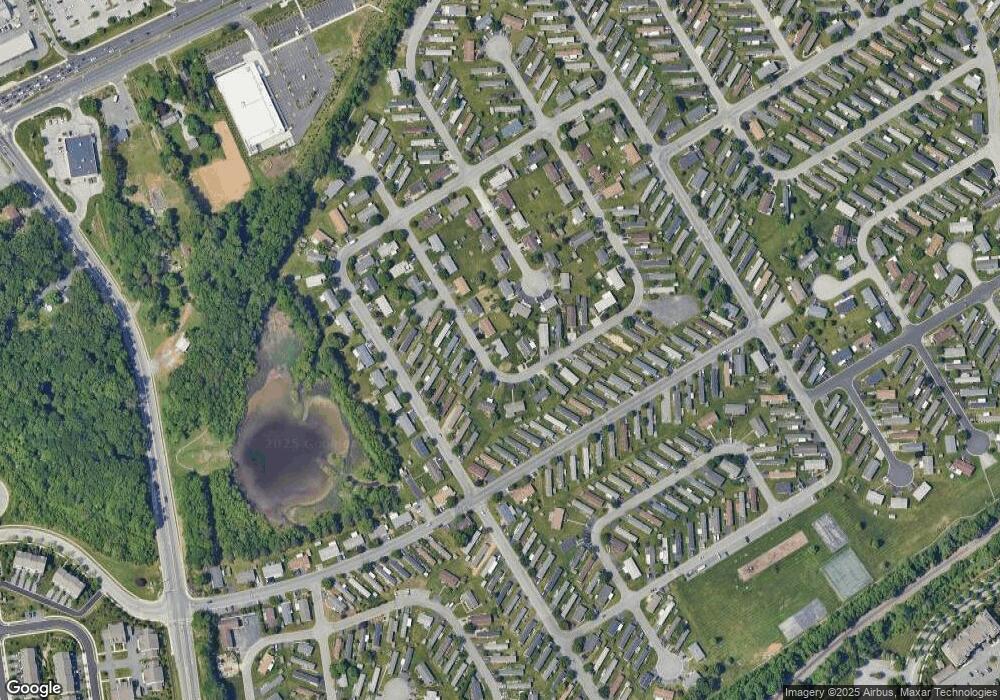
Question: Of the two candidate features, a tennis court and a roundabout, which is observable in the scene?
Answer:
tennis court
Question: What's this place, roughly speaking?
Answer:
residential area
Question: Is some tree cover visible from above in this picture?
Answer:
Yes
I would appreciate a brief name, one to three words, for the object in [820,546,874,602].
tennis court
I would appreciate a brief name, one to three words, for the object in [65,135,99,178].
building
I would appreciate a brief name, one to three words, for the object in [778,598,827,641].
basketball court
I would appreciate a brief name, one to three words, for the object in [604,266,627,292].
house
